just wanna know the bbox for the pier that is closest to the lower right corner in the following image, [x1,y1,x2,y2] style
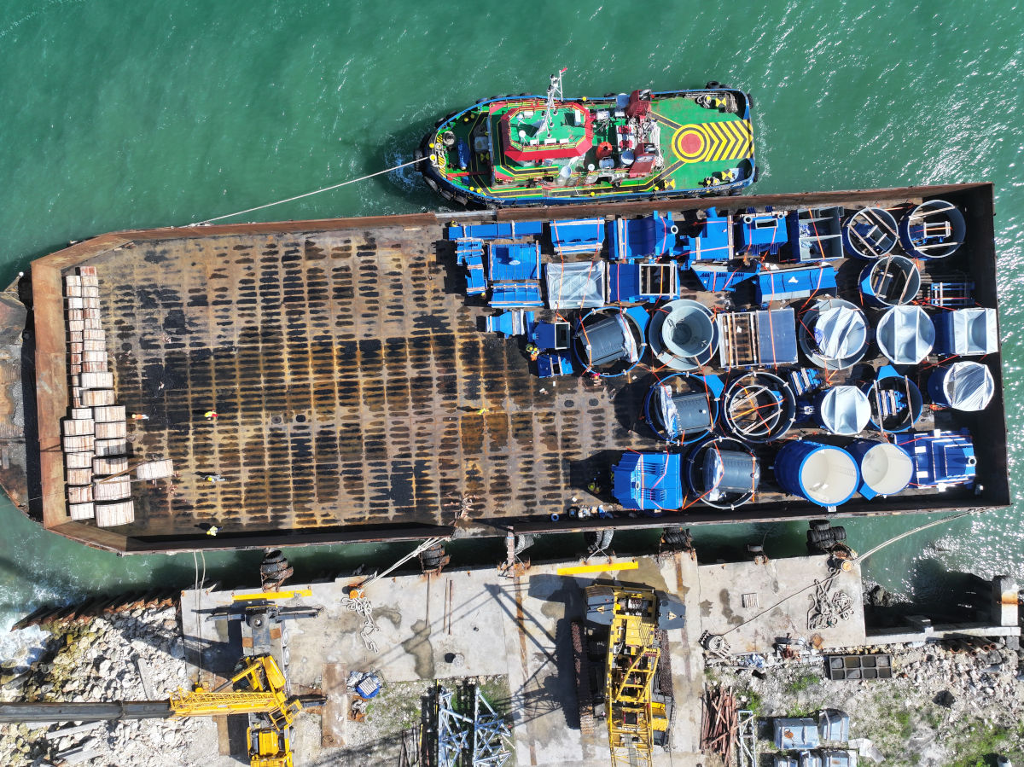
[982,569,1024,650]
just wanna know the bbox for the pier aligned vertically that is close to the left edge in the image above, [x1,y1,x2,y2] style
[0,271,44,519]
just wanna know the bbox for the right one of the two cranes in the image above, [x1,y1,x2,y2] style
[570,578,685,767]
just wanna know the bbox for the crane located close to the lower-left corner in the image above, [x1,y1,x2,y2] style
[0,602,333,767]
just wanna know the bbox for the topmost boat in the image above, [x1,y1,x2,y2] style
[412,70,763,211]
